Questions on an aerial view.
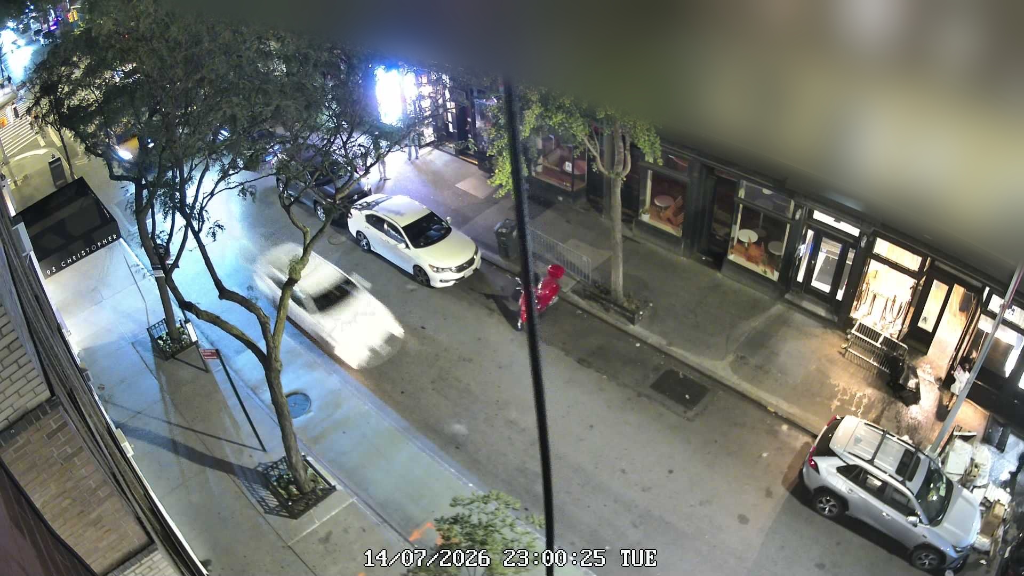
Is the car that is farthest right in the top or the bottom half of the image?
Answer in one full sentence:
The car that is farthest right is in the bottom half of the image.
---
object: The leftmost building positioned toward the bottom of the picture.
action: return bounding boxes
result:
[0,124,205,576]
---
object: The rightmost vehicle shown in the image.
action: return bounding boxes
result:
[802,412,995,571]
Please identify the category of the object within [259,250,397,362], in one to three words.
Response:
car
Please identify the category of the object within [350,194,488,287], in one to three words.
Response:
car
